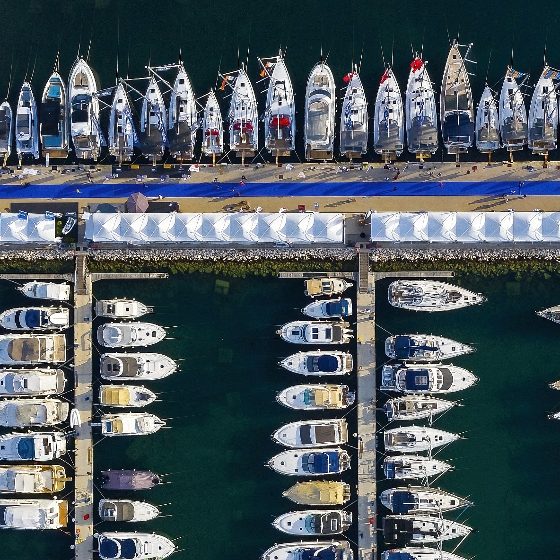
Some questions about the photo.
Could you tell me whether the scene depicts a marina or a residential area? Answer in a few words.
marina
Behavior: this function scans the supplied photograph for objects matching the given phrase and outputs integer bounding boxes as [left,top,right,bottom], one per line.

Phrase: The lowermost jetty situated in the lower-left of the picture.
[0,272,169,560]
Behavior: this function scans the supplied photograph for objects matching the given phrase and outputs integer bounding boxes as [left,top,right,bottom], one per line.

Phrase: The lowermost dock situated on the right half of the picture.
[277,271,454,560]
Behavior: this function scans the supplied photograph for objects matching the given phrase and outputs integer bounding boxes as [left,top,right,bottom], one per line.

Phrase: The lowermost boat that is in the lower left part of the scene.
[95,530,188,560]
